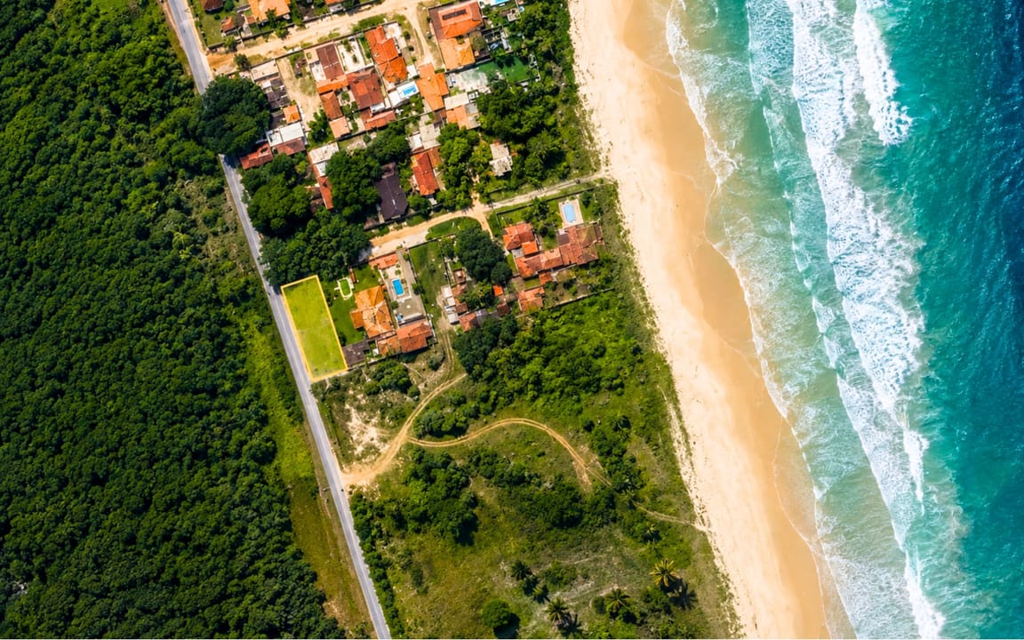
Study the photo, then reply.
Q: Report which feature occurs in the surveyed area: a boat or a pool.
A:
pool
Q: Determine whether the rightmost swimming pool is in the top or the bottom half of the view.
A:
top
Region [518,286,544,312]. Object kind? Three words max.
house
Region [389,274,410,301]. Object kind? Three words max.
swimming pool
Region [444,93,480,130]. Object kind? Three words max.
house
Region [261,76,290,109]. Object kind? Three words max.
building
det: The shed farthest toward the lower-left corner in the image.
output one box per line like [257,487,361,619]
[342,340,370,366]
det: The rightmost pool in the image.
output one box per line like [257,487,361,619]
[559,199,583,227]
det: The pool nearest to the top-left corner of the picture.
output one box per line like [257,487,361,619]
[389,82,419,107]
